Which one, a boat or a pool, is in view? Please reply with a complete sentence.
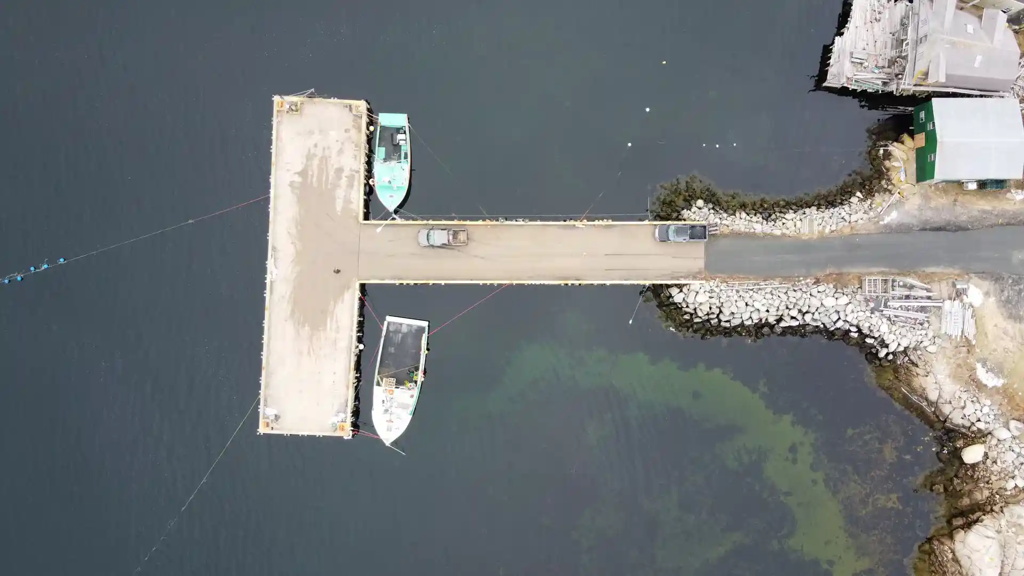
Of the two, only a boat appears.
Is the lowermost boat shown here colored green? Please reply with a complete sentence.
No, from above the lowermost boat looks white.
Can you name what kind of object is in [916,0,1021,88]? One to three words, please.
building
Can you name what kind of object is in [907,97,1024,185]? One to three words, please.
building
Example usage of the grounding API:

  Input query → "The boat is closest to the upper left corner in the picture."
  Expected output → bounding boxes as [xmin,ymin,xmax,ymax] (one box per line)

[372,113,416,233]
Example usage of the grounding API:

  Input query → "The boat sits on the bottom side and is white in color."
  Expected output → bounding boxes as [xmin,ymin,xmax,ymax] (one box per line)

[372,317,429,455]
